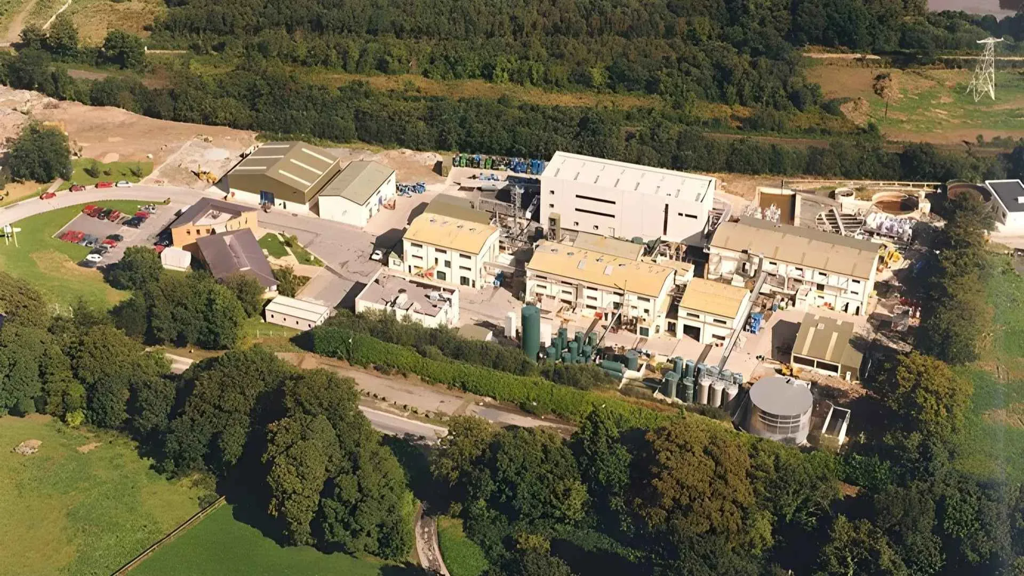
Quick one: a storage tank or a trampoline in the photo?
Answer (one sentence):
Looking from above, you can make out a storage tank.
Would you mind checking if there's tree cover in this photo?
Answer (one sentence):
Yes, tree cover can be seen from above here.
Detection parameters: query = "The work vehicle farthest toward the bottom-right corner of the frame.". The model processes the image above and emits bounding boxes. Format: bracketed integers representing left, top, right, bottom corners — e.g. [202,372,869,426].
[764,356,794,376]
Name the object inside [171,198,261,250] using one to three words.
building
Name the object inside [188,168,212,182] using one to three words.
work vehicle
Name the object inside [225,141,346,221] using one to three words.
building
